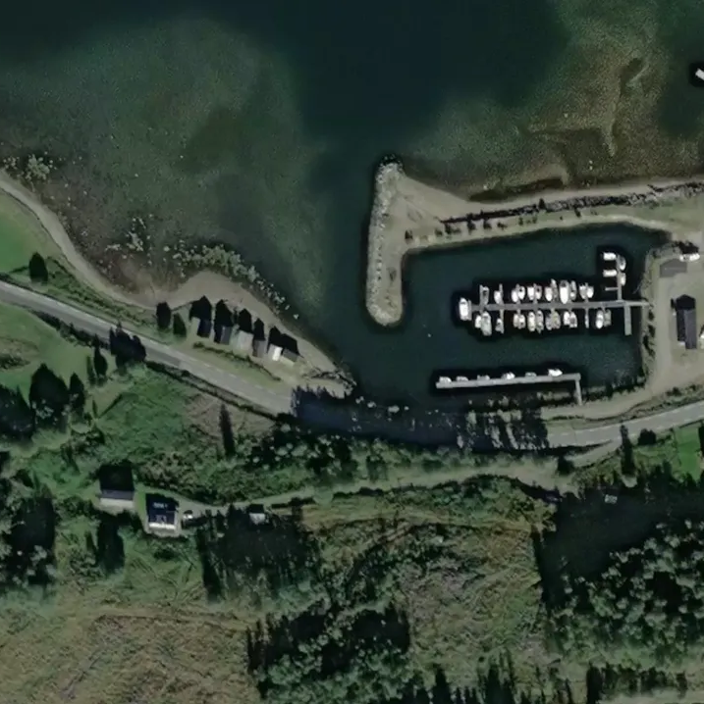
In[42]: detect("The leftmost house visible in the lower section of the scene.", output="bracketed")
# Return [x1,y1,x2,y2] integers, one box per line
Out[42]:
[100,489,135,510]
